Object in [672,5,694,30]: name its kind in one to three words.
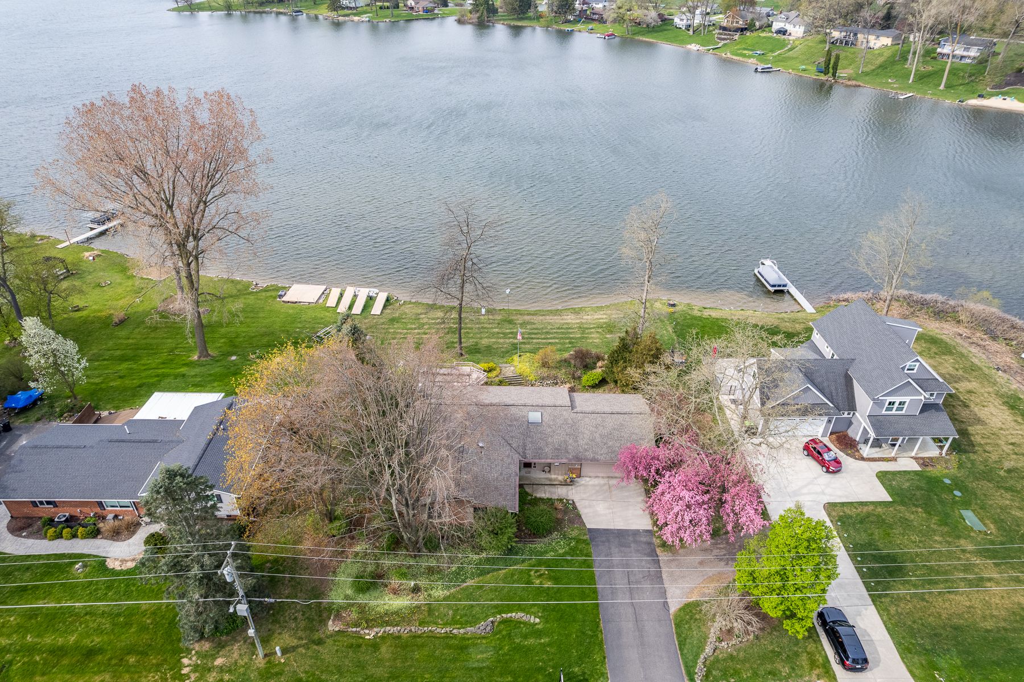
house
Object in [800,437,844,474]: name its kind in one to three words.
car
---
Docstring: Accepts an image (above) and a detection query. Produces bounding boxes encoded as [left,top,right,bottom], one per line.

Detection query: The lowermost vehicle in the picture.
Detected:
[815,607,872,673]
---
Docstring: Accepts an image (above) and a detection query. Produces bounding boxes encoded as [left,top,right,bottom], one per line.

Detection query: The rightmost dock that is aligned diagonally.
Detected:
[760,257,818,315]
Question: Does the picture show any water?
Yes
